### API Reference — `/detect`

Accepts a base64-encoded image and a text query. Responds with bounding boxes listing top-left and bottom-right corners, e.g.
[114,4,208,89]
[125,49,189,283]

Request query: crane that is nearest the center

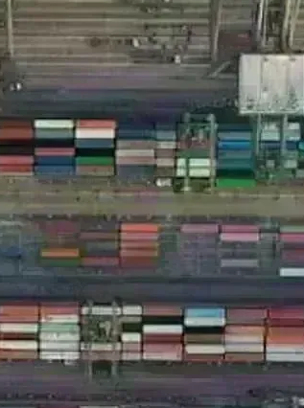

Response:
[168,110,217,195]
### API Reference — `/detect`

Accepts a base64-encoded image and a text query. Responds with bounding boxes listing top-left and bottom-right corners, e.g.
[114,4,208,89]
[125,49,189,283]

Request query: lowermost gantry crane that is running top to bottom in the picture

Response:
[77,287,122,385]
